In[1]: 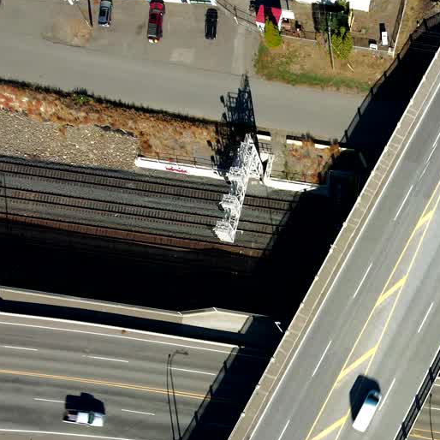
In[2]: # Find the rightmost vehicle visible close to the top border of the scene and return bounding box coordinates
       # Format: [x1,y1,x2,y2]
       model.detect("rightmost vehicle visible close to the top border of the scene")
[203,9,219,41]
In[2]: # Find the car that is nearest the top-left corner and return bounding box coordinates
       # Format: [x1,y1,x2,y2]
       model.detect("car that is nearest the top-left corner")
[97,0,113,27]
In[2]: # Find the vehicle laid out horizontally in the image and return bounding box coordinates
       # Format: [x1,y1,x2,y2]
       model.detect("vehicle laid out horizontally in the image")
[61,409,107,426]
